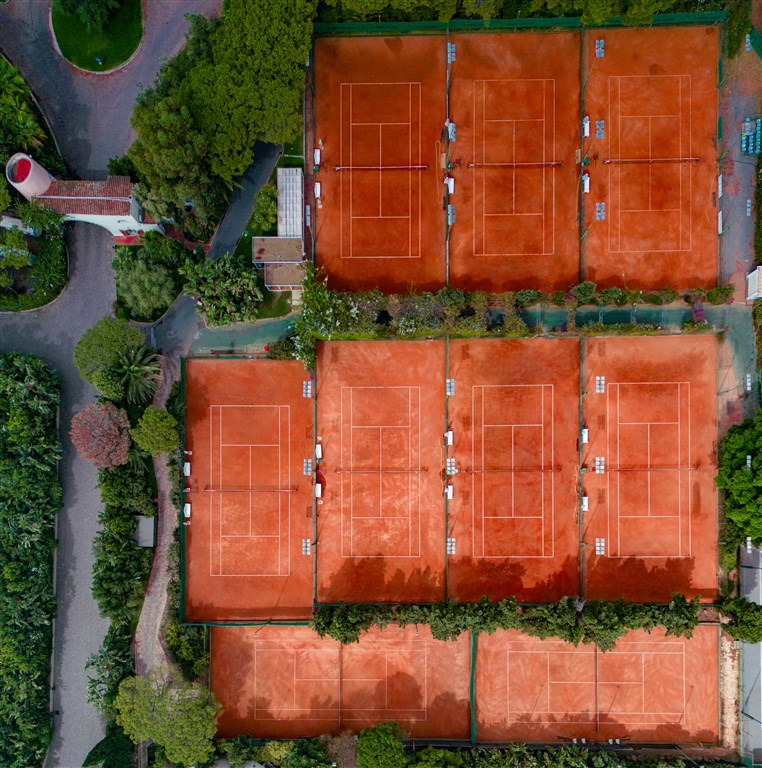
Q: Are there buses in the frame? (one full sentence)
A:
No, there isn't any bus down there.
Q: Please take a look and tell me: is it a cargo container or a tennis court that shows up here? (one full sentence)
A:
Looking from above, you can make out a tennis court.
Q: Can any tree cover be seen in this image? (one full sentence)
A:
Yes, there's tree cover in this view.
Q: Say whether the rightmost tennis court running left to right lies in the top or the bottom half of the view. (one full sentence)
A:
The bottom half of the photo is where the rightmost tennis court running left to right is.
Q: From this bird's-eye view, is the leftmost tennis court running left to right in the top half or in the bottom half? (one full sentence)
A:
Seen from above, the leftmost tennis court running left to right lies in the bottom half of the view.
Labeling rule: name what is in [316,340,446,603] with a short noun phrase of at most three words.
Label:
tennis court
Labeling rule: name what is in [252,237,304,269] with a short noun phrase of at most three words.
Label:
building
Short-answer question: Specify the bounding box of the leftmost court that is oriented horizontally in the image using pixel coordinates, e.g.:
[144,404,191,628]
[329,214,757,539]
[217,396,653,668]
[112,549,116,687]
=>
[211,624,471,741]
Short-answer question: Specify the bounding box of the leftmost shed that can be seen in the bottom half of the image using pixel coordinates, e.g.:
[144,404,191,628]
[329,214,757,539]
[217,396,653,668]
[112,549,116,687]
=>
[134,516,159,547]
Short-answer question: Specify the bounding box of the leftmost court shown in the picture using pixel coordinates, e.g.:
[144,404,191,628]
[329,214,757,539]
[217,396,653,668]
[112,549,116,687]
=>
[186,360,314,620]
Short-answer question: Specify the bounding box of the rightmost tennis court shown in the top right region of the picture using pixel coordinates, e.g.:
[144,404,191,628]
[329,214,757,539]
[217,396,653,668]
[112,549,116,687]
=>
[585,26,719,290]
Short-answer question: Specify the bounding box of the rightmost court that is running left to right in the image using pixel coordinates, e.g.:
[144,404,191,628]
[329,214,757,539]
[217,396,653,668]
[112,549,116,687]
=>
[475,624,719,742]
